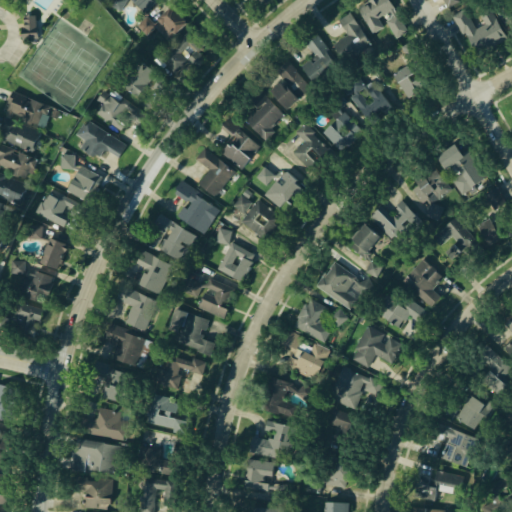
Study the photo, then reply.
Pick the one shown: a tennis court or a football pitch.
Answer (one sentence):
I can see a tennis court in this picture.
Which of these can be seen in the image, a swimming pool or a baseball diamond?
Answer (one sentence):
I can see a swimming pool in this picture.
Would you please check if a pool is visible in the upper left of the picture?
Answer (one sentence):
Yes, in the upper left of the picture there is a pool.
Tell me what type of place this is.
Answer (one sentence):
The area seen from above is a residential area.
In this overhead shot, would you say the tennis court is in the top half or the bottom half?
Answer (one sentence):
Seen from above, the tennis court lies in the top half of the view.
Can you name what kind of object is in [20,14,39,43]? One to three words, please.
building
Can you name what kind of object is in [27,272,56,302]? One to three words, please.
house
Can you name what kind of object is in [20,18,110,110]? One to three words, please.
tennis court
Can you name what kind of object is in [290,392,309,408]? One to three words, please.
swimming pool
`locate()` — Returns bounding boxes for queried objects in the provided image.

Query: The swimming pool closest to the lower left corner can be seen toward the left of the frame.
[156,431,178,460]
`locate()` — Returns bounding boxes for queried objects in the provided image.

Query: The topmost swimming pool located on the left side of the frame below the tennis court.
[51,165,76,188]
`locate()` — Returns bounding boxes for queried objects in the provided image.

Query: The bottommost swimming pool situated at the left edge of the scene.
[18,238,48,256]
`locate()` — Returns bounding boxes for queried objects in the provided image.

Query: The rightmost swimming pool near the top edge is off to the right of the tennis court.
[121,4,140,28]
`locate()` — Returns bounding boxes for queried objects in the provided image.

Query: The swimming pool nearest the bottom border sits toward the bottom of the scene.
[276,464,298,482]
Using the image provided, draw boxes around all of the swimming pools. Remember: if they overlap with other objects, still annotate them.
[121,4,140,28]
[18,238,48,256]
[276,464,298,482]
[316,116,330,126]
[51,165,76,188]
[156,431,178,460]
[290,392,309,408]
[27,0,65,24]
